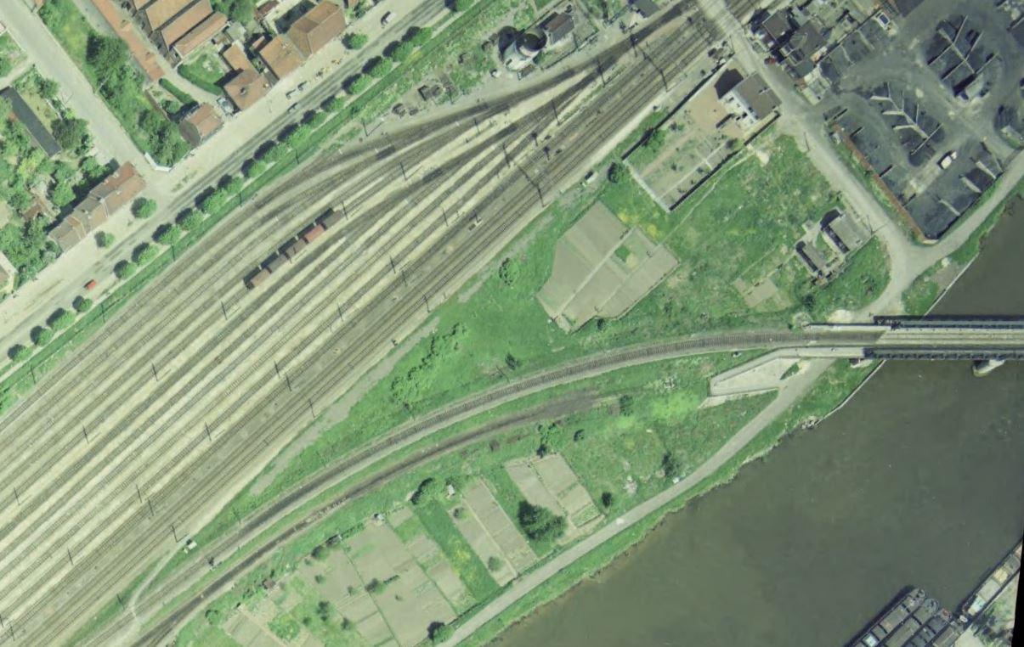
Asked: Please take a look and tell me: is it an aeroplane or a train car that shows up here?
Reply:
train car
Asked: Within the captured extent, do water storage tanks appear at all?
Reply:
Yes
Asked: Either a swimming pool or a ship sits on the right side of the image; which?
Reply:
ship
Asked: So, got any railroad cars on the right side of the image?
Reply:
No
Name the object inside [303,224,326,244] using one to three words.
rail car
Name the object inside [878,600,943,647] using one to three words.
ship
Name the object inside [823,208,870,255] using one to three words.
house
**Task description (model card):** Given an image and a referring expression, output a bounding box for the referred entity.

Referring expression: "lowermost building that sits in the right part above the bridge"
[799,241,829,274]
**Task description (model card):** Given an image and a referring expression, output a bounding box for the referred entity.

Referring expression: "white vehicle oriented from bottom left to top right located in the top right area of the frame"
[942,150,959,166]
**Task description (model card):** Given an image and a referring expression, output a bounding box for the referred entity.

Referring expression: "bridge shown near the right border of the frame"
[778,322,1024,376]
